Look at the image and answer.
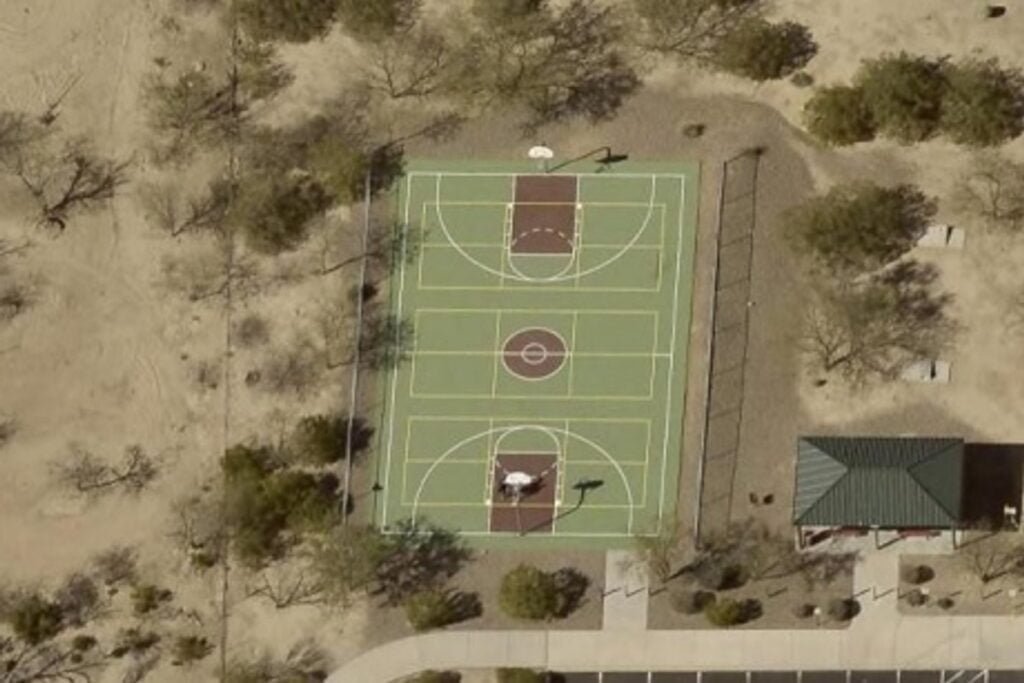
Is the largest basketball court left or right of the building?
left of it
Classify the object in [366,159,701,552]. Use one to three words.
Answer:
basketball court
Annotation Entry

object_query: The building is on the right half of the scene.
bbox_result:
[794,436,965,556]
